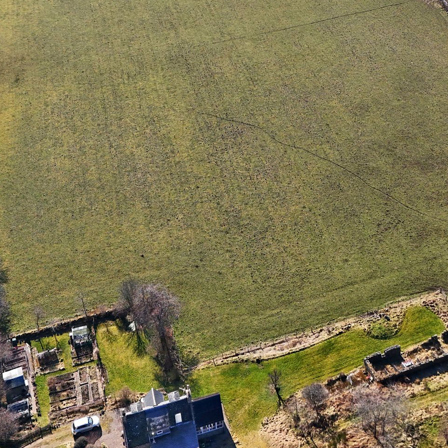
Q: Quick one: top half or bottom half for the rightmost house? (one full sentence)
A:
Seen from above, the rightmost house lies in the bottom half of the view.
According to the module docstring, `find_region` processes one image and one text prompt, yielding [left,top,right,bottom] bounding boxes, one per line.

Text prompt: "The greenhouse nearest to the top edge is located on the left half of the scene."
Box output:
[72,329,90,353]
